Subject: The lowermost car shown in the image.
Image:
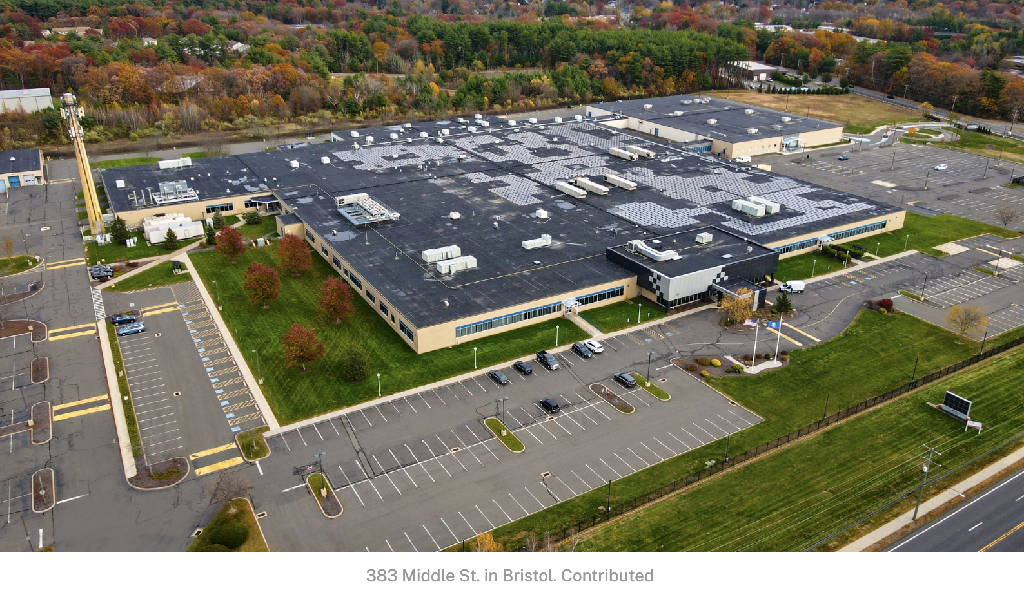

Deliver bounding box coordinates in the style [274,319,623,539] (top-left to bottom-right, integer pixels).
[540,396,561,412]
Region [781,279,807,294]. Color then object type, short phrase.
white vehicle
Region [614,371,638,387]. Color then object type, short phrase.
gray car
